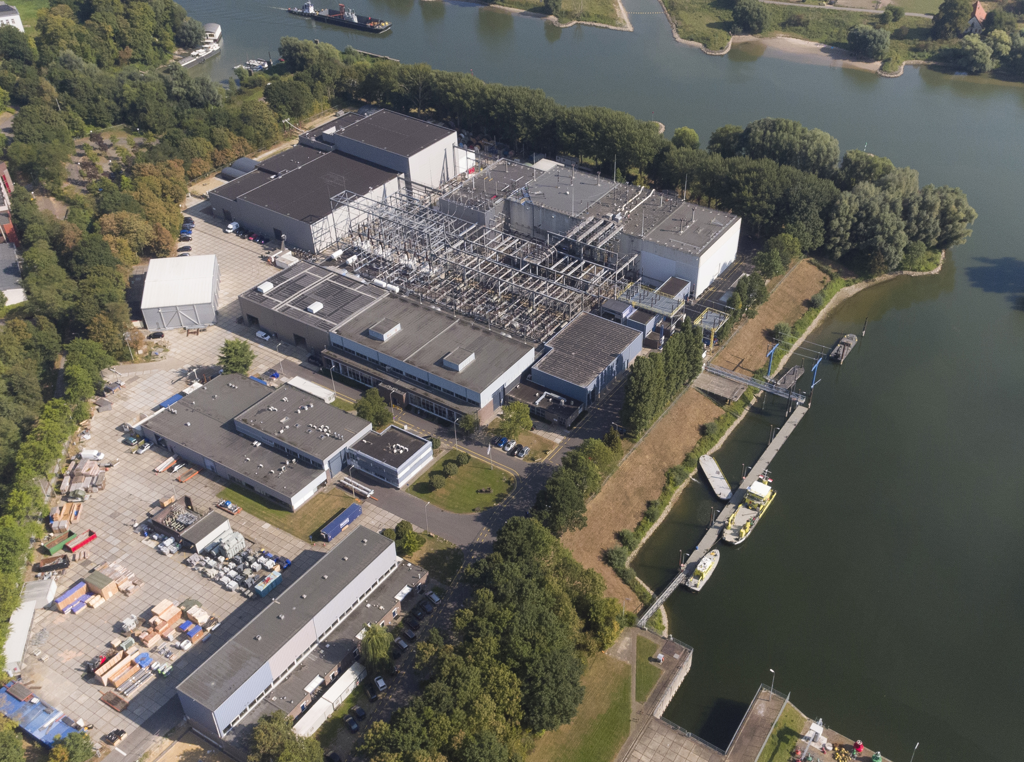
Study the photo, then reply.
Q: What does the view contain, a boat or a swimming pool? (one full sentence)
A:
Looking from above, you can make out a boat.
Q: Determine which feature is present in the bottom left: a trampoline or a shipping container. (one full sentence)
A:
It is a shipping container that can be seen in the bottom left.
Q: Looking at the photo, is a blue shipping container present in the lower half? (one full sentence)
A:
Yes, the scene does show a blue shipping container in the lower half.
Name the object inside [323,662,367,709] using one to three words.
building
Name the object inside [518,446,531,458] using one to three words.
vehicle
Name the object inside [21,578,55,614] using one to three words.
building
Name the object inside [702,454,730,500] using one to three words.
ship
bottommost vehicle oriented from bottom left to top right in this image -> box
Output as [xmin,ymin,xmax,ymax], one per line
[90,658,105,677]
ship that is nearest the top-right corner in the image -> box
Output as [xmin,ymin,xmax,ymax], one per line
[828,333,858,363]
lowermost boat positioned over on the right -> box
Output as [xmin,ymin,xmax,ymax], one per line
[684,549,719,596]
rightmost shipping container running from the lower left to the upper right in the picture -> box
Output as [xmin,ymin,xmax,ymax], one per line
[321,504,363,543]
